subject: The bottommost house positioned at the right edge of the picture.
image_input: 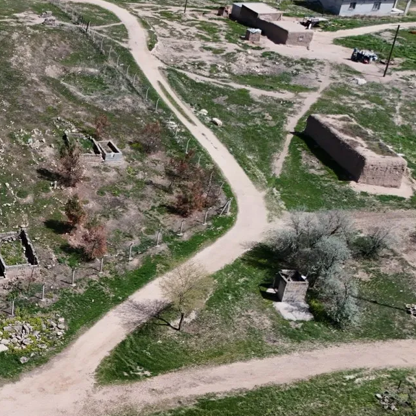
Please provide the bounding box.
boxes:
[317,111,409,184]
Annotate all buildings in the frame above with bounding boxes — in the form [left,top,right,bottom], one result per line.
[308,0,413,16]
[226,0,316,46]
[317,111,409,184]
[264,265,324,320]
